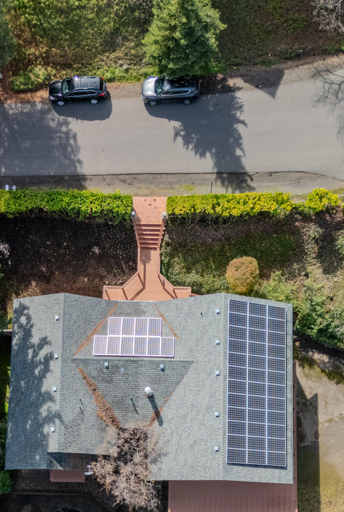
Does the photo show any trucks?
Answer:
No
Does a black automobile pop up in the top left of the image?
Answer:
Yes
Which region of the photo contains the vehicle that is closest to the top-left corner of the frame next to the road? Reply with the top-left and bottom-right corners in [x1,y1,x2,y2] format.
[47,78,108,111]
